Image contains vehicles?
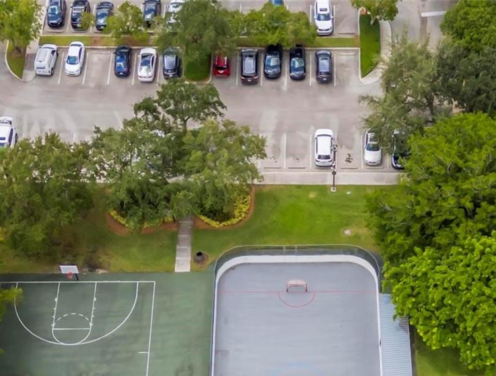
Yes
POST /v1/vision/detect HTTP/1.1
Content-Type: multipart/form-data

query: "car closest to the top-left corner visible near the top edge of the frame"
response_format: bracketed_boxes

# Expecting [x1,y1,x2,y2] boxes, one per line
[44,0,67,28]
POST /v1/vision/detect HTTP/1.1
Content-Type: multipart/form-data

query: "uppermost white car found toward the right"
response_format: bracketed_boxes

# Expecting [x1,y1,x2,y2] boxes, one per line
[314,1,333,35]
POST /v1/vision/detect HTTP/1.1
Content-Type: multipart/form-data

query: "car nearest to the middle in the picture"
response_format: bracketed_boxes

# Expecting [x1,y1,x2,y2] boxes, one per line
[313,131,334,168]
